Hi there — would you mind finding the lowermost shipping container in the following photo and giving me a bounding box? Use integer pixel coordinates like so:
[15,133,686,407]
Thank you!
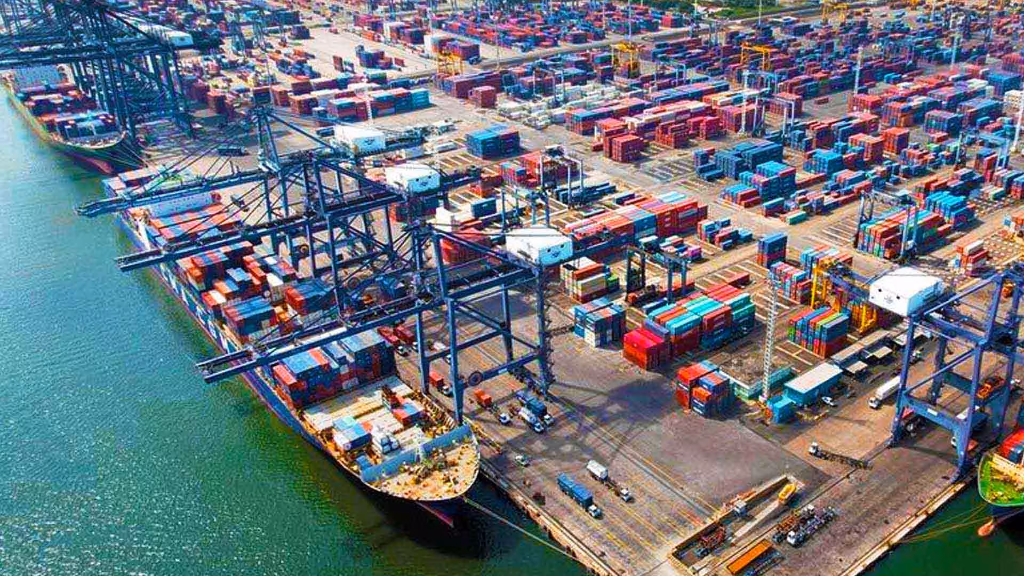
[726,535,782,576]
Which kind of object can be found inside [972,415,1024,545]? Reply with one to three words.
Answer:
ship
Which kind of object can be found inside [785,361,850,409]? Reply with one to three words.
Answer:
building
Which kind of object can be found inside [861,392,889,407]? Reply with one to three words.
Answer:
vehicle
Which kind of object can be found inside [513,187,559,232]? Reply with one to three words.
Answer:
container crane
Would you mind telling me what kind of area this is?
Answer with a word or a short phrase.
port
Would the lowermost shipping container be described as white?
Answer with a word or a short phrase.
No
